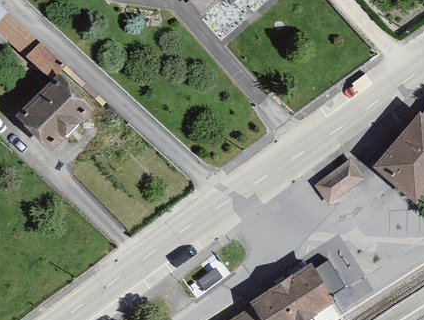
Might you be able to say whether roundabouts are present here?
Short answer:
No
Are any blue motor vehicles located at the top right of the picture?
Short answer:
No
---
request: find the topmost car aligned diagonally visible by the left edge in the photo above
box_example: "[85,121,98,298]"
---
[7,132,28,152]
